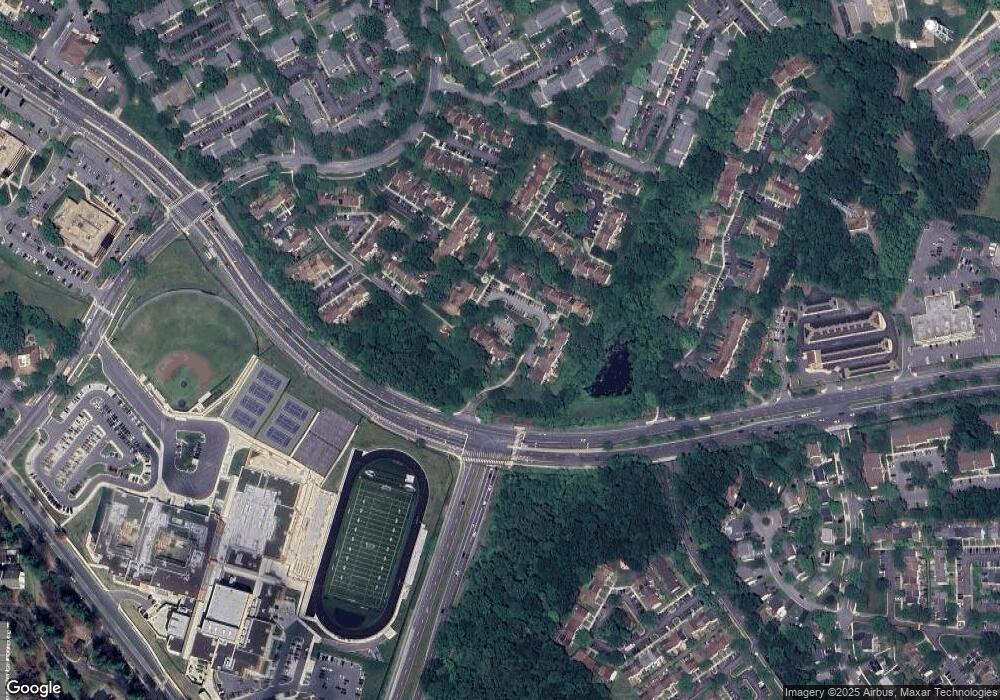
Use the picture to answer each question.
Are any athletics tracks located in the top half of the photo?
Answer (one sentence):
No, looking in the top half of the photo, there is no athletics track.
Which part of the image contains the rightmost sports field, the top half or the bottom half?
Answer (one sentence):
It is in the bottom half that the rightmost sports field appears.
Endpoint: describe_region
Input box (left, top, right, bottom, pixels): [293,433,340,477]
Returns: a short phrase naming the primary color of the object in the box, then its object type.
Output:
gray sports court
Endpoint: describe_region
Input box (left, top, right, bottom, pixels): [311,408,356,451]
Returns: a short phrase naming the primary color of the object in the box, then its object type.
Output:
gray sports court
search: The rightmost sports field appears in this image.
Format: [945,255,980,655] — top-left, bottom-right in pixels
[322,458,420,629]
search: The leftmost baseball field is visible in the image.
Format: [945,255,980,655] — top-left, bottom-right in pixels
[113,289,258,411]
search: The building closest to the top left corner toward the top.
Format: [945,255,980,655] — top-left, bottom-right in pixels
[60,29,96,68]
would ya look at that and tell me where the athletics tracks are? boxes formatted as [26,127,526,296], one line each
[306,448,429,638]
